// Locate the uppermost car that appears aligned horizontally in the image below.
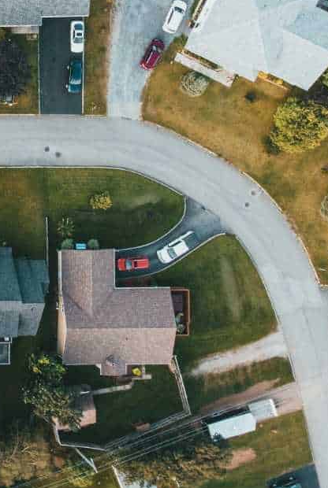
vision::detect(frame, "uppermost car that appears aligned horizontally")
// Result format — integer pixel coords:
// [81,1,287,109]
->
[115,256,151,273]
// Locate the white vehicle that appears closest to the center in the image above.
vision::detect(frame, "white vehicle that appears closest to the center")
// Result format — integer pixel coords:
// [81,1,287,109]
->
[155,230,201,266]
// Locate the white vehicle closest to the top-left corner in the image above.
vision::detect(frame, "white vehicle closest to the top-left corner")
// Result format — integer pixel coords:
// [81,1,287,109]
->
[67,20,87,54]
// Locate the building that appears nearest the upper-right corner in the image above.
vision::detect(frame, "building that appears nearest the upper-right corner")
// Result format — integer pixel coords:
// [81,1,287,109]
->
[176,0,328,91]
